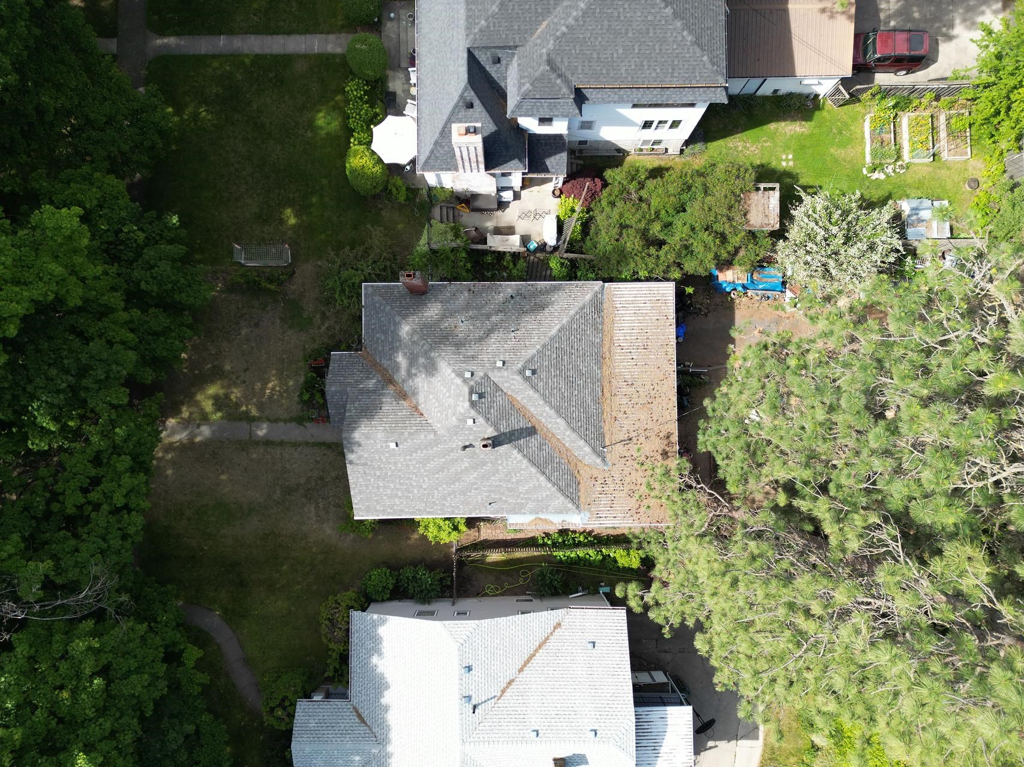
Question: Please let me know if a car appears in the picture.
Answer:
Yes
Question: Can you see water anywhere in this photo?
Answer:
No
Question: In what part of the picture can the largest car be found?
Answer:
top right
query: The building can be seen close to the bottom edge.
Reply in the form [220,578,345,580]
[291,592,696,767]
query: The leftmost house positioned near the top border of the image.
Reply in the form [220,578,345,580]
[414,0,731,197]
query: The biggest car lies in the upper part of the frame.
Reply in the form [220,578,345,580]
[853,29,929,74]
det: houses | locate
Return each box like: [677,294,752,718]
[414,0,731,197]
[324,271,681,529]
[291,592,696,767]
